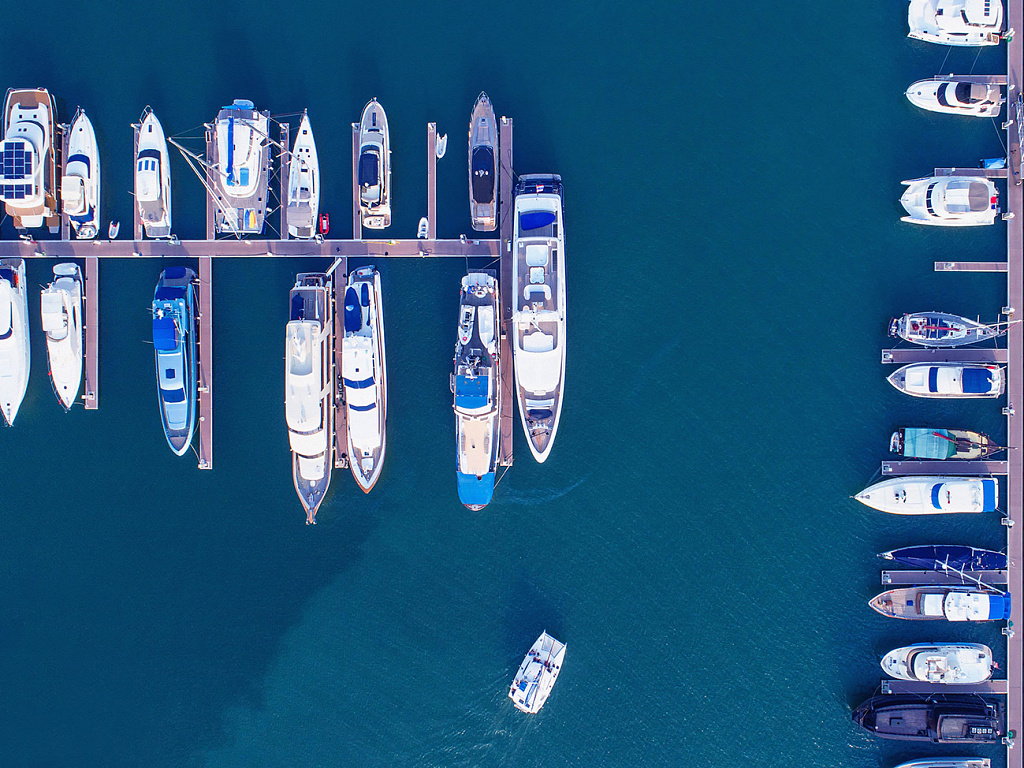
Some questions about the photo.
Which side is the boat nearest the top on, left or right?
right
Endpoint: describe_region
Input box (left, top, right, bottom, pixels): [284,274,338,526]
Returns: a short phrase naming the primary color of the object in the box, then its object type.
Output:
white boat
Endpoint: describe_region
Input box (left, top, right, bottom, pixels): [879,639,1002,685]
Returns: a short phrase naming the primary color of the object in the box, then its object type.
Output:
white boat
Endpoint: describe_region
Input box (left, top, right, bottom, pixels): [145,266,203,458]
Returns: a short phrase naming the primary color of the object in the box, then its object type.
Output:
blue boat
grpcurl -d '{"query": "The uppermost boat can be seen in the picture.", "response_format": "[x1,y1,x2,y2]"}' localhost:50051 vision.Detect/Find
[908,0,1000,49]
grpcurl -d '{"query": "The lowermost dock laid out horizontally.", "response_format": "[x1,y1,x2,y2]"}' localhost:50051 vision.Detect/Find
[880,680,1007,694]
